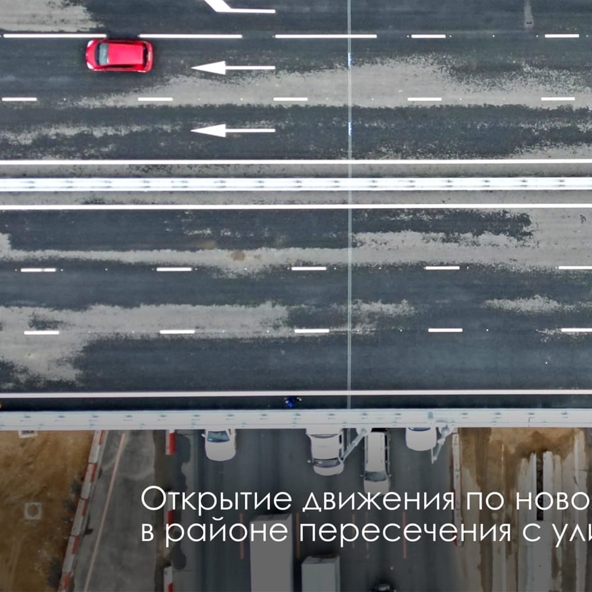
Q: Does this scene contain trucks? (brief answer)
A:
Yes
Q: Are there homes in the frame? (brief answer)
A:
No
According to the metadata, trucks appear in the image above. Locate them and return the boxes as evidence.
[251,508,298,592]
[304,430,341,478]
[303,549,344,592]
